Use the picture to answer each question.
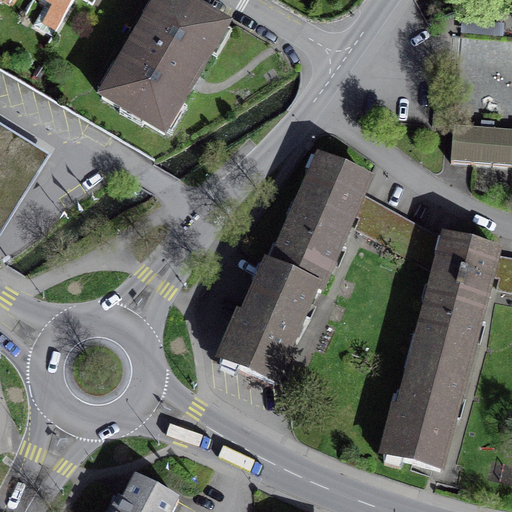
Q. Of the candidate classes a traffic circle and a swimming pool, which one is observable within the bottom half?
traffic circle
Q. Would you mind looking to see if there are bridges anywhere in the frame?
Yes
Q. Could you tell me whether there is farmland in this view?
No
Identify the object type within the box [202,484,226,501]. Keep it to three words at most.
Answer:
car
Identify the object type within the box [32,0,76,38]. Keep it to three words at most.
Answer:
house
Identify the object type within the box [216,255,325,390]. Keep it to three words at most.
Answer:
building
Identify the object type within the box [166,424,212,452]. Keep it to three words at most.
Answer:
truck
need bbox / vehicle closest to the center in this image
[237,258,256,274]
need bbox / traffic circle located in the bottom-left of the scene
[26,302,170,442]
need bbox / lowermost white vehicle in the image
[8,480,25,508]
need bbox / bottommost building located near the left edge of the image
[0,114,55,235]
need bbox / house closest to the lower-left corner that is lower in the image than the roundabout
[106,472,180,512]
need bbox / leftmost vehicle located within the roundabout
[48,350,60,372]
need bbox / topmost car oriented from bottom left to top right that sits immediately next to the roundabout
[100,292,122,310]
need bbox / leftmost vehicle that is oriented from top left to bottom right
[0,332,20,354]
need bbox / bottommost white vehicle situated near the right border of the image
[472,214,497,230]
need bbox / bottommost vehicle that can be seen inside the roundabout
[97,422,120,439]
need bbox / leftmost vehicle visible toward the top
[81,172,104,190]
